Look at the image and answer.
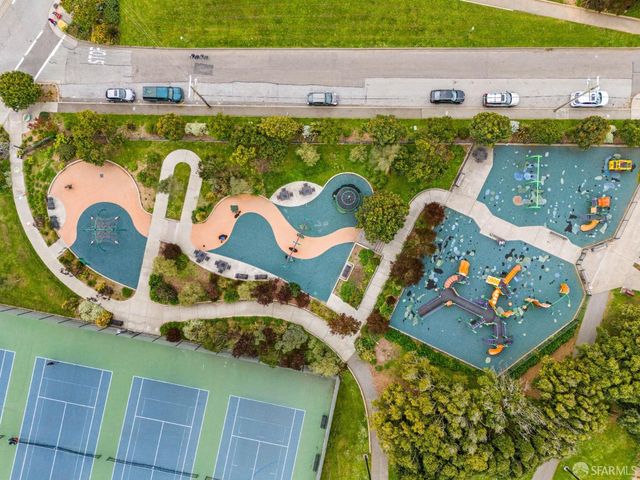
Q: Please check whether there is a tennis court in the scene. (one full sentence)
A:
Yes, you can see a tennis court in this photo.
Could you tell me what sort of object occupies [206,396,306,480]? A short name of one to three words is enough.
tennis court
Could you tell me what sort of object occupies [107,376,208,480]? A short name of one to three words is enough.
tennis court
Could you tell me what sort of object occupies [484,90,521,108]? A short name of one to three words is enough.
car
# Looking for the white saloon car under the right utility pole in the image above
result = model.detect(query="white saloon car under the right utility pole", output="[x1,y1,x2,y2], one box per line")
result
[572,89,611,107]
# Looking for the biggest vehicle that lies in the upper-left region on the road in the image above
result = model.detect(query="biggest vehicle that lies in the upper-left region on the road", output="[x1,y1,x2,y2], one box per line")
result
[138,84,184,102]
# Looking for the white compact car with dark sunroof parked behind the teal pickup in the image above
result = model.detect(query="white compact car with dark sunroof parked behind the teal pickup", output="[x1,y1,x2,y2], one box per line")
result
[102,86,134,102]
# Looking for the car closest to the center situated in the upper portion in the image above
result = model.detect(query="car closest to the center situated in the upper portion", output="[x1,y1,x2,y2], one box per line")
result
[306,89,339,106]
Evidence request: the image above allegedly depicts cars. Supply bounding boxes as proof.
[572,89,611,107]
[431,88,466,104]
[306,89,339,106]
[102,86,134,102]
[484,90,521,108]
